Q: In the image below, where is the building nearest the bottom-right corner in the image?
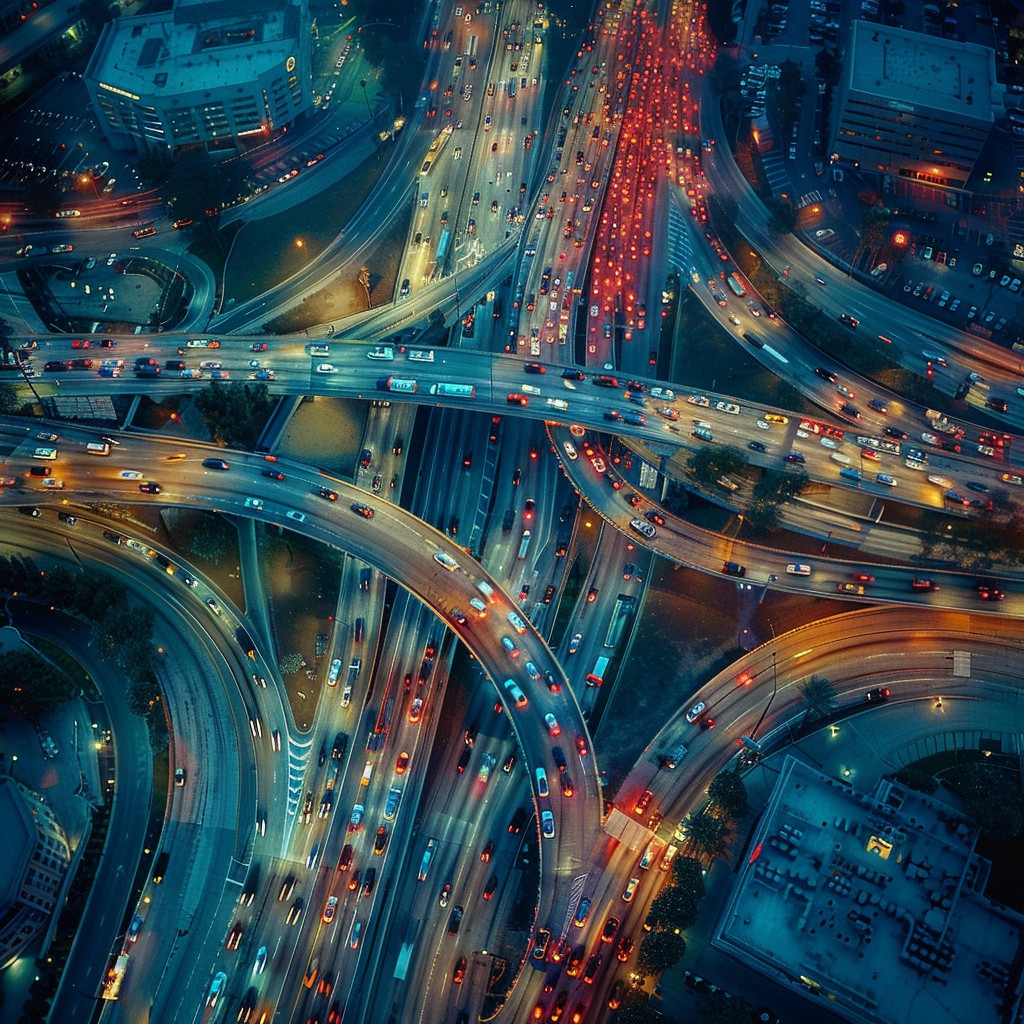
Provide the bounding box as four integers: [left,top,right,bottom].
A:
[705,752,1024,1024]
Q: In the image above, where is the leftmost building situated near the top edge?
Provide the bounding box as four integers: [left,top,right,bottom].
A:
[81,0,324,158]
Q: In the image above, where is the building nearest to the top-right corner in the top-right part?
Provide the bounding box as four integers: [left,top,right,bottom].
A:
[828,16,1015,194]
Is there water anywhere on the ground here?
No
